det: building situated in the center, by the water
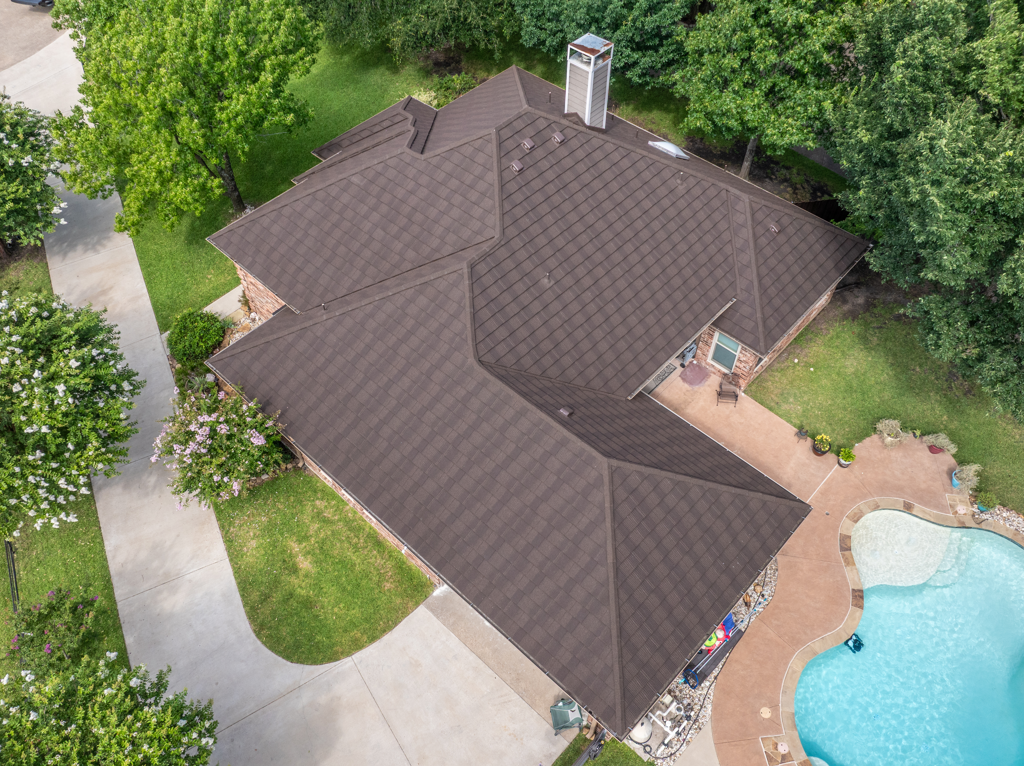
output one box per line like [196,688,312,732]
[205,33,873,744]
